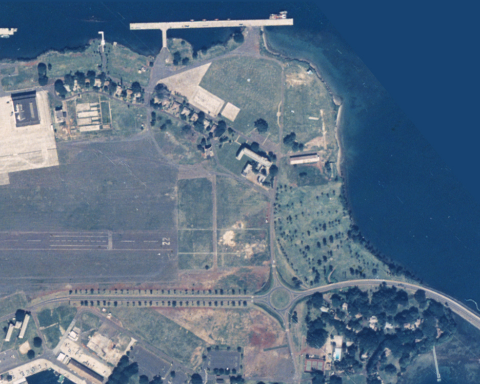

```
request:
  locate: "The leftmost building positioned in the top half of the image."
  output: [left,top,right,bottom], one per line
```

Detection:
[11,92,40,127]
